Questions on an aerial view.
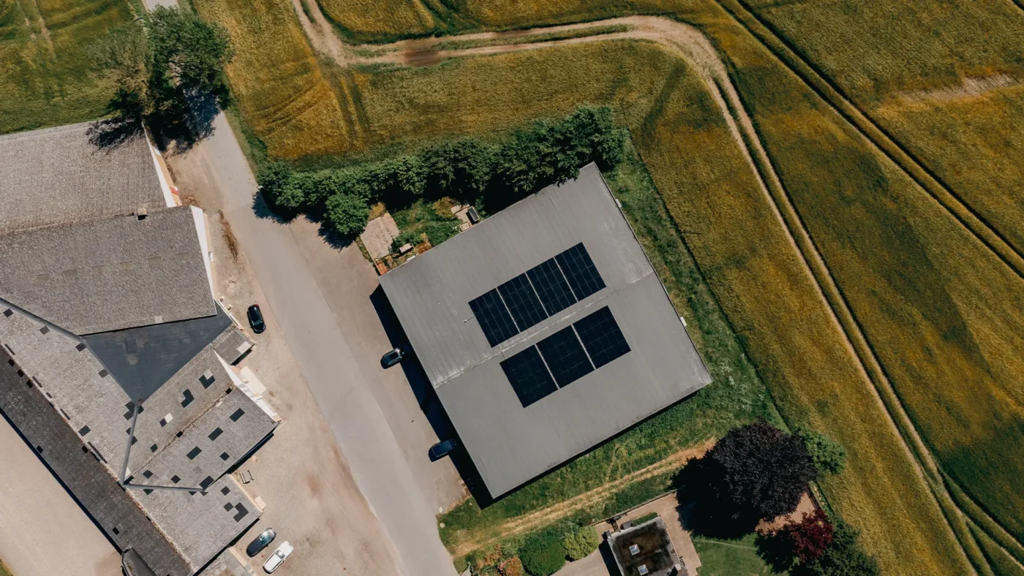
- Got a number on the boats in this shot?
zero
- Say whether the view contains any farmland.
Yes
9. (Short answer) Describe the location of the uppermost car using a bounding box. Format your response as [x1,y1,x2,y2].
[245,303,264,334]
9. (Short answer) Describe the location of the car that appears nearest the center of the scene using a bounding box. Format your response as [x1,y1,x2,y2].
[379,346,410,370]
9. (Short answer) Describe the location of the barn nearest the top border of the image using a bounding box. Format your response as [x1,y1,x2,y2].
[0,118,182,234]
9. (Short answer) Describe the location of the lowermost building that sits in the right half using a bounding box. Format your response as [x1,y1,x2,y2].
[607,513,688,576]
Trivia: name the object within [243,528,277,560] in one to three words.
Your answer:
car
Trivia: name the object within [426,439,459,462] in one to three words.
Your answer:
car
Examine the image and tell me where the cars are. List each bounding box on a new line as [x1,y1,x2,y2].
[262,541,292,576]
[245,303,264,334]
[426,439,459,462]
[243,528,277,560]
[379,346,410,370]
